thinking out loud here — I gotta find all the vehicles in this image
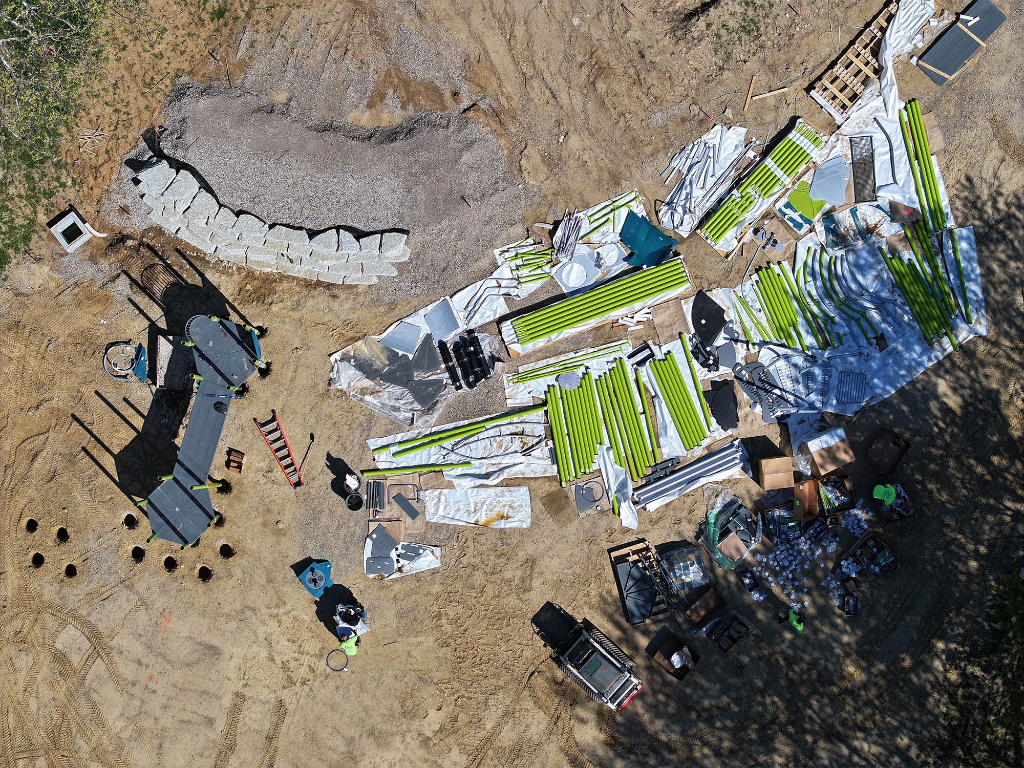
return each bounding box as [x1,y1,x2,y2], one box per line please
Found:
[525,599,646,715]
